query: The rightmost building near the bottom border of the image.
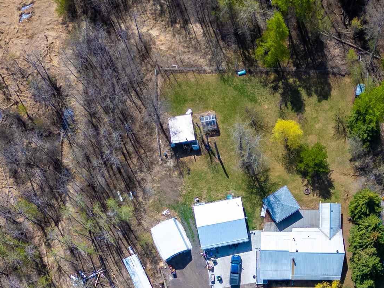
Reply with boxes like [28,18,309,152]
[256,203,344,288]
